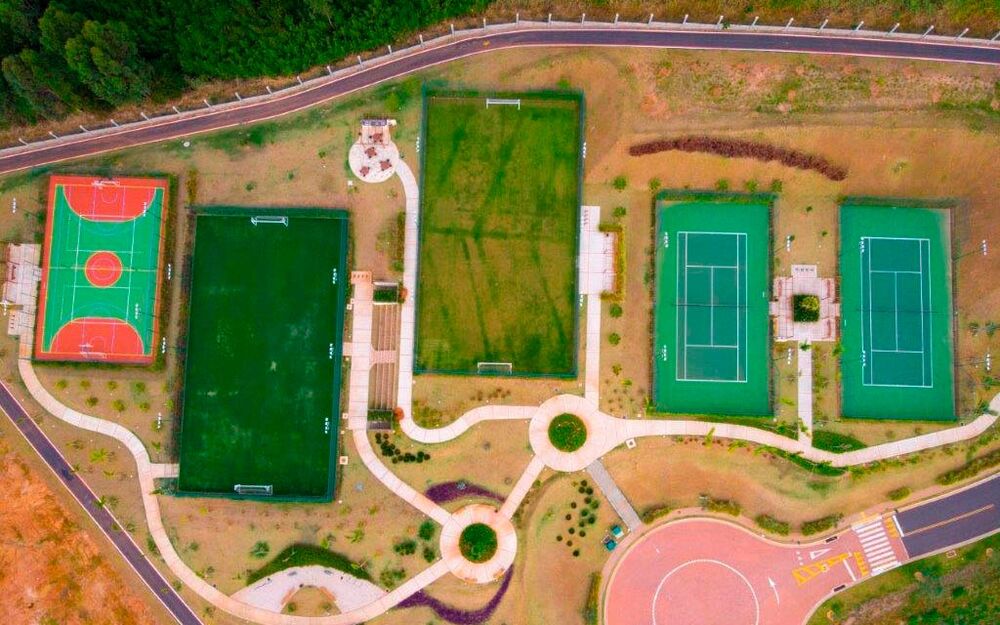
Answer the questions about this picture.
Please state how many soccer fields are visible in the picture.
two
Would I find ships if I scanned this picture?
No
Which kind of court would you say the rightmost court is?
tennis court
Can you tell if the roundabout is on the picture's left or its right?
right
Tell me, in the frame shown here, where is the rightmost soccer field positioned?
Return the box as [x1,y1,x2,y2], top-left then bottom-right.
[416,98,579,374]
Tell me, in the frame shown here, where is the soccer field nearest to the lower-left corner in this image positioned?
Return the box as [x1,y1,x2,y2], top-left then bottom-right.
[179,215,349,495]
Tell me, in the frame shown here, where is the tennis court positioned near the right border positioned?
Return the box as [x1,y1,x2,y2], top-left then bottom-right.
[841,206,956,420]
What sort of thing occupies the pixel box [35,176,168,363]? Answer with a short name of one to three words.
sports court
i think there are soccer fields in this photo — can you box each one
[416,98,579,374]
[179,215,349,495]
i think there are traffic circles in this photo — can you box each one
[602,511,910,625]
